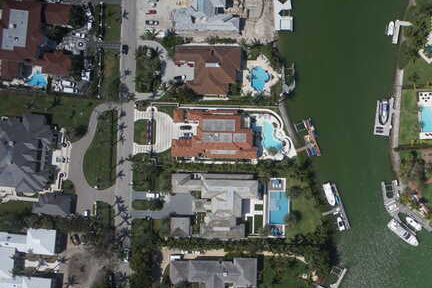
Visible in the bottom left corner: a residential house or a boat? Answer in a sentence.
Looking in the bottom left corner, you will find a residential house.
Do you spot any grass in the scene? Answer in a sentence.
Yes, the picture does contain grass.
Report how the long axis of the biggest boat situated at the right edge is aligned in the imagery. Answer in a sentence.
The biggest boat situated at the right edge is laid out at an angle.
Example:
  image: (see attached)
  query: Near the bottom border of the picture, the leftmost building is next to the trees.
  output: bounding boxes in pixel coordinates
[0,230,61,288]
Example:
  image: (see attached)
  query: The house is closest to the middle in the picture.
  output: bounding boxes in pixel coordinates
[172,109,257,163]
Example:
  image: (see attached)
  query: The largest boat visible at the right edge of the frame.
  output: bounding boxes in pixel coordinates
[386,216,418,245]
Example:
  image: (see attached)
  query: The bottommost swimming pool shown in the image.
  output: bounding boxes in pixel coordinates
[265,178,289,238]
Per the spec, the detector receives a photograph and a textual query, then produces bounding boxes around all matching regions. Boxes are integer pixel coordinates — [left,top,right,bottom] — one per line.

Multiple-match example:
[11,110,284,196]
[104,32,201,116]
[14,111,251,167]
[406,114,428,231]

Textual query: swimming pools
[249,65,272,92]
[265,178,289,238]
[421,105,432,133]
[257,117,292,155]
[24,77,50,88]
